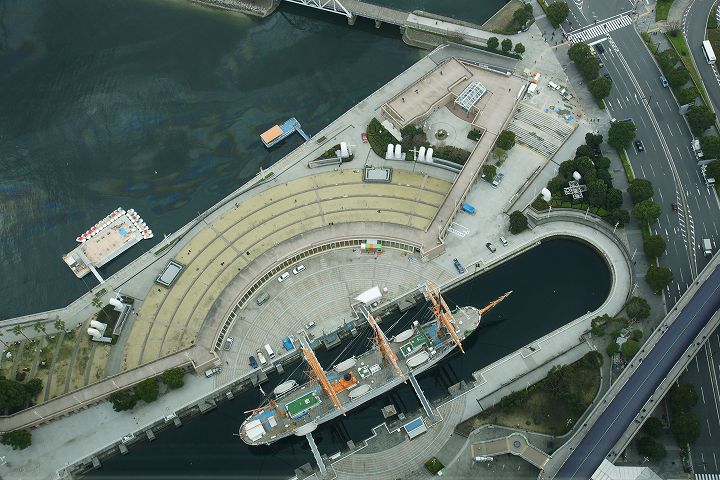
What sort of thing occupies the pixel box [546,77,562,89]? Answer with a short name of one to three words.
vehicle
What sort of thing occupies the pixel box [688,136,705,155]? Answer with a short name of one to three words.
vehicle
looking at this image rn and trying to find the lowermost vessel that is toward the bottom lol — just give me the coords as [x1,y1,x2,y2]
[233,282,510,444]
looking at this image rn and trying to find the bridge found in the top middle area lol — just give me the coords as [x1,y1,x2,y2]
[298,0,410,37]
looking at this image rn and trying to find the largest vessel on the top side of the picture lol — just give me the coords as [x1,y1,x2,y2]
[260,118,311,148]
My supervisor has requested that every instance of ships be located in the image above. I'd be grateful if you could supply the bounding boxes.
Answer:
[260,118,311,148]
[233,282,510,444]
